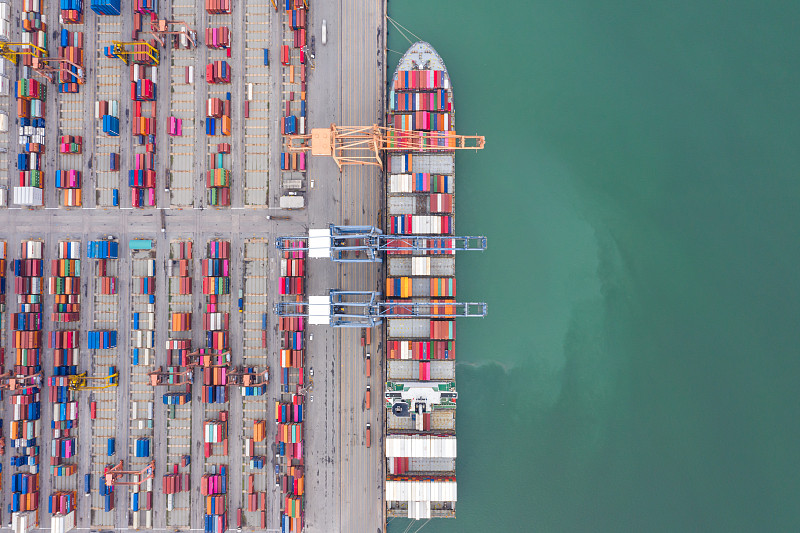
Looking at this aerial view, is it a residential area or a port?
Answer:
port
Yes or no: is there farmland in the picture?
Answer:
No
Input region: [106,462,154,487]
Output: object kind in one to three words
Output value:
container crane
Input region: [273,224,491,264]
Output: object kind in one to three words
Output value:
container crane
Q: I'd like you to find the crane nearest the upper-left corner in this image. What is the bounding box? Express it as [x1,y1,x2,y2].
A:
[0,40,48,65]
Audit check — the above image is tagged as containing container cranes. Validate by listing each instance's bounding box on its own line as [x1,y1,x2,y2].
[274,126,489,175]
[32,57,84,82]
[188,349,231,369]
[273,224,491,264]
[0,372,43,393]
[273,288,491,328]
[0,40,48,65]
[150,20,196,48]
[227,368,270,388]
[69,371,119,392]
[112,40,159,65]
[106,462,154,487]
[148,368,194,388]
